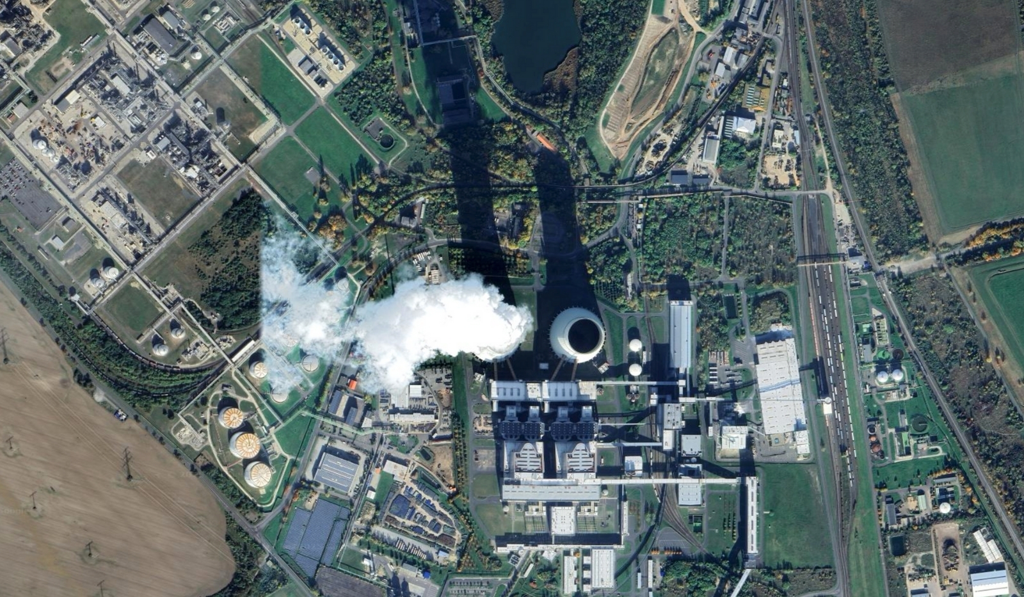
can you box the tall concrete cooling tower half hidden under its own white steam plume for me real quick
[465,302,528,365]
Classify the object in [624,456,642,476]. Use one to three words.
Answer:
building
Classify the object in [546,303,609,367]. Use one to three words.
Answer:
cooling tower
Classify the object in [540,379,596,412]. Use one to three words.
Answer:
building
